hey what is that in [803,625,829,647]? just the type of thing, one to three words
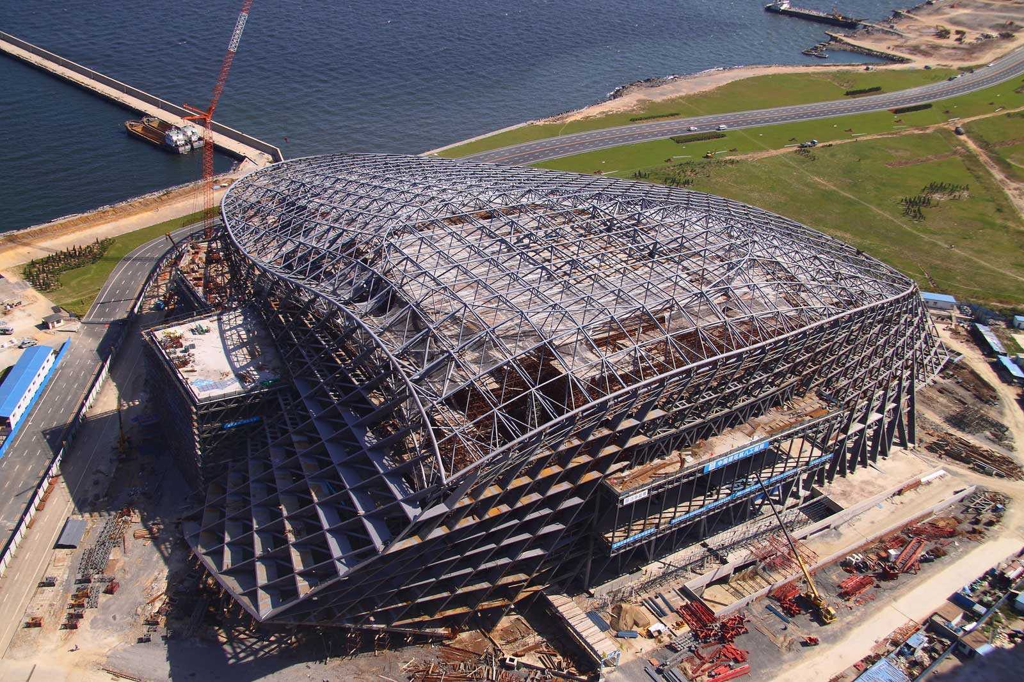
work vehicle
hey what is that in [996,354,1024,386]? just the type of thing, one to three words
shed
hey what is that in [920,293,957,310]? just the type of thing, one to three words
shed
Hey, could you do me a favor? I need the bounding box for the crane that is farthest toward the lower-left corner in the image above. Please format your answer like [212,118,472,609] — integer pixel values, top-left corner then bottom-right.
[106,402,136,464]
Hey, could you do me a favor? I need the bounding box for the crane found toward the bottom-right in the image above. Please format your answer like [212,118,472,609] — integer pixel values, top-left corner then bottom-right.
[749,474,844,623]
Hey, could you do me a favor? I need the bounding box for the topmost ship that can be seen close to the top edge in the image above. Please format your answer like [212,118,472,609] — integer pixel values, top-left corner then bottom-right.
[764,0,875,26]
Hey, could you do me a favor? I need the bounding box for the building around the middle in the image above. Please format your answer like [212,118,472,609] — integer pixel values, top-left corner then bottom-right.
[134,152,967,636]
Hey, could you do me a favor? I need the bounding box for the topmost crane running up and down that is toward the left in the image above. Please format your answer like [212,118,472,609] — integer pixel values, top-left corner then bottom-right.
[168,0,255,265]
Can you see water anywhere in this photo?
Yes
